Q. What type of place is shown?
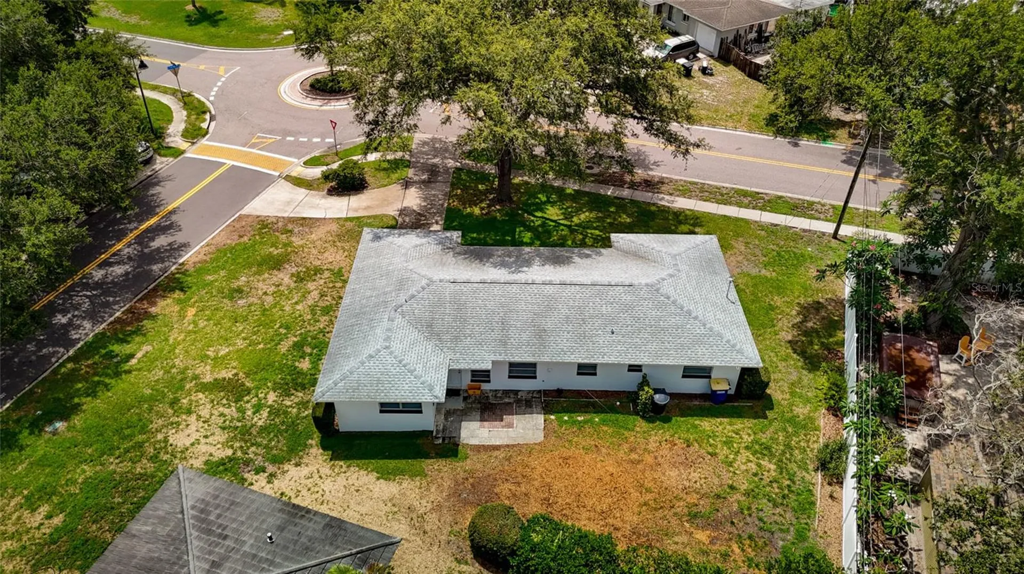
residential area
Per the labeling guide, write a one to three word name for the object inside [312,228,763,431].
house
